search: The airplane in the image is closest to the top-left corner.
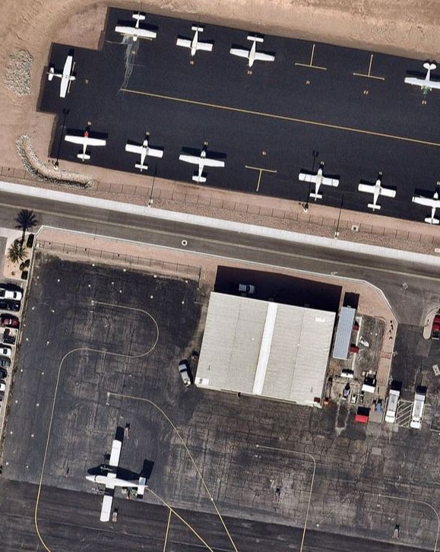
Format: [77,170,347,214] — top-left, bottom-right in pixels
[48,55,79,97]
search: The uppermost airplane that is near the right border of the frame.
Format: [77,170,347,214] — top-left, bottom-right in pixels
[404,61,440,95]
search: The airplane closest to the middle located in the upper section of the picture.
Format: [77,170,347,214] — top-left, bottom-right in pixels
[180,150,224,182]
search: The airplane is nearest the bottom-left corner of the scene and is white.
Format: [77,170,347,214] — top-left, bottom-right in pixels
[88,437,148,519]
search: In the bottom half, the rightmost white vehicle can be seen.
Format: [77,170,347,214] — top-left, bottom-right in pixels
[411,393,425,430]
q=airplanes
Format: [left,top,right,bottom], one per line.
[124,137,163,171]
[114,13,156,42]
[412,191,440,223]
[175,25,214,55]
[65,130,107,161]
[180,150,224,182]
[230,32,275,66]
[298,167,339,200]
[404,61,440,95]
[48,55,79,97]
[88,437,148,519]
[358,177,397,209]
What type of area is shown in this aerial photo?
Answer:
airport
